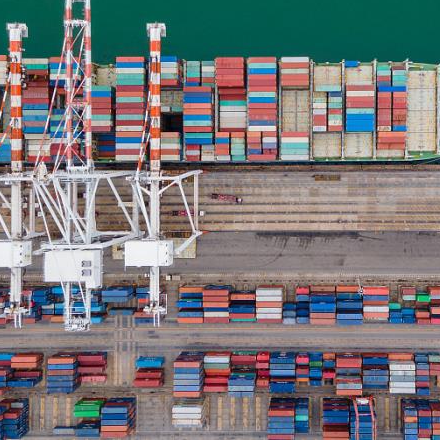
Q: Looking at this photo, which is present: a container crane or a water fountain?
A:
container crane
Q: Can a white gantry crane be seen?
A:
Yes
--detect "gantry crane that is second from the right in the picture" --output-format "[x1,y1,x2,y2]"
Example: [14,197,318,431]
[126,22,212,321]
